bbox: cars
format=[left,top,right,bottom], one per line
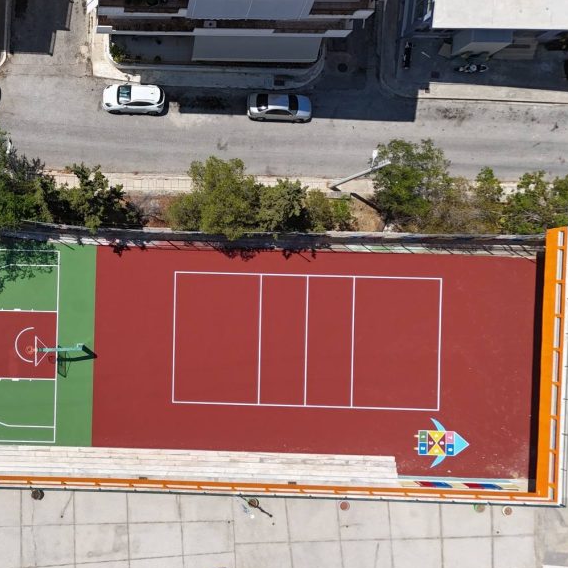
[101,80,165,117]
[245,91,311,125]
